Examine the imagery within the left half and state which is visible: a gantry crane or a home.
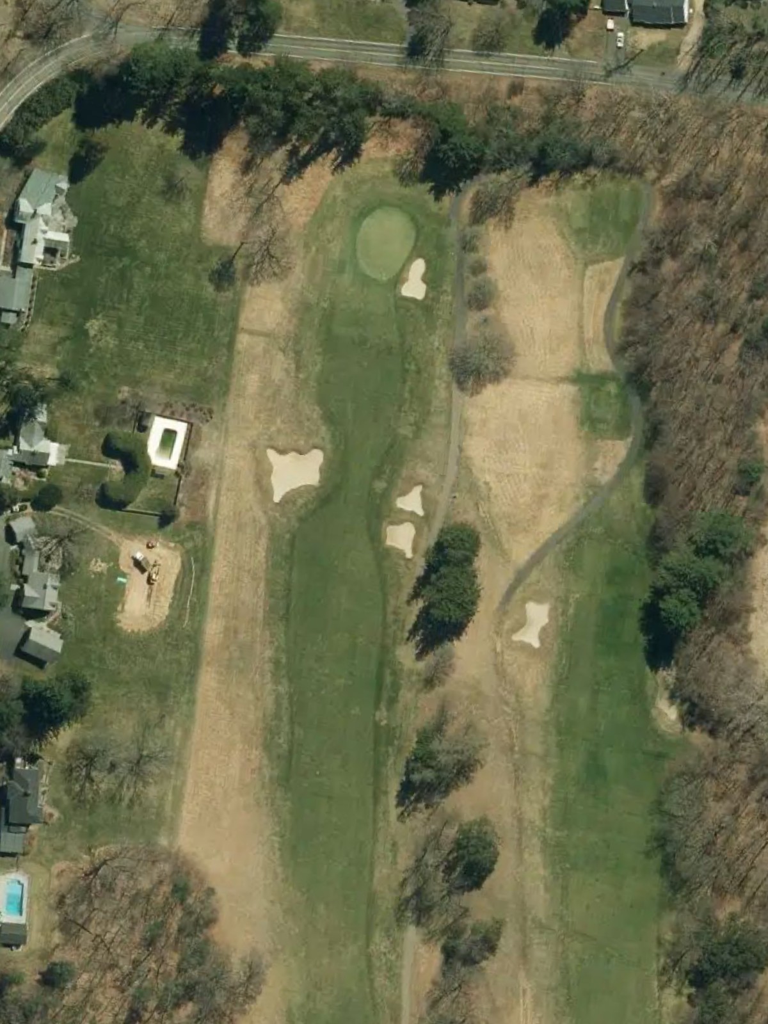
home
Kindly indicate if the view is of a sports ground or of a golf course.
golf course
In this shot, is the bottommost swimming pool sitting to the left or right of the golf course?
left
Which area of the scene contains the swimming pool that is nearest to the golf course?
left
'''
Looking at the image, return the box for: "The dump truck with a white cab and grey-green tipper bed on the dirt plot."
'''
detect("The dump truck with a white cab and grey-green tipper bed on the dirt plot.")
[135,553,152,573]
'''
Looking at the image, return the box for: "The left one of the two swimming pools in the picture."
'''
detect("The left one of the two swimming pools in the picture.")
[0,872,29,924]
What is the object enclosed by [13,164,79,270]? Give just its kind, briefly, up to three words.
house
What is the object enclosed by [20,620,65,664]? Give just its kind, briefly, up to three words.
building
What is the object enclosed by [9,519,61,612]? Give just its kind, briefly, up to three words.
house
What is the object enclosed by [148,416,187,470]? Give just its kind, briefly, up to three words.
swimming pool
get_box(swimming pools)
[0,872,29,924]
[148,416,187,470]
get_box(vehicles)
[618,32,624,47]
[150,562,159,582]
[607,17,614,31]
[148,541,158,547]
[135,553,152,573]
